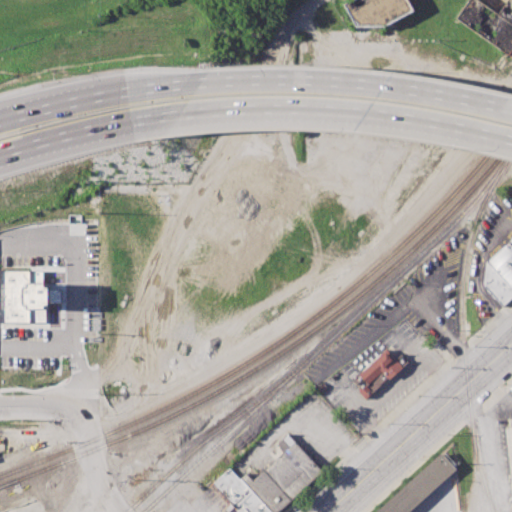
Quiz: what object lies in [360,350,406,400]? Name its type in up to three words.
building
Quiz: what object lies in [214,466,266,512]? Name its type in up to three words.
building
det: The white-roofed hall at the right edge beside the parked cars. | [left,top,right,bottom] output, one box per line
[482,246,512,304]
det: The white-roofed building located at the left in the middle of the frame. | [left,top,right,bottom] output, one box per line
[4,271,62,323]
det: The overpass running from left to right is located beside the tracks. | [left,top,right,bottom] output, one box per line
[0,66,512,181]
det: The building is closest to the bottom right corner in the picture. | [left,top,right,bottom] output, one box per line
[379,454,458,512]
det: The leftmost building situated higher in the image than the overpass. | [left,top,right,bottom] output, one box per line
[344,0,414,30]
